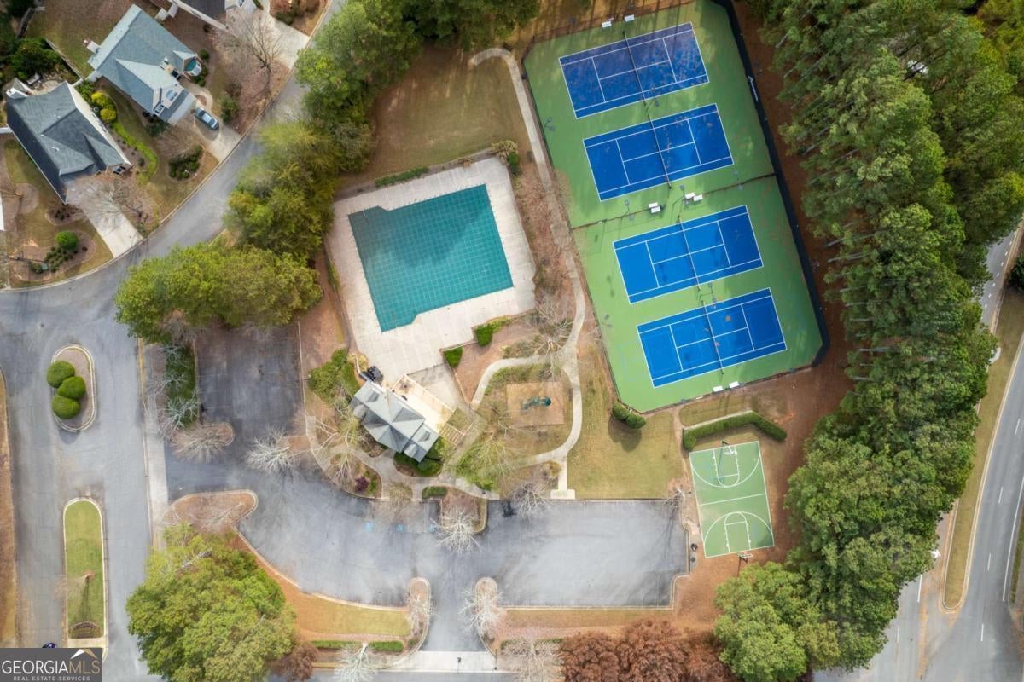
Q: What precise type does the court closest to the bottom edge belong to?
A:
basketball court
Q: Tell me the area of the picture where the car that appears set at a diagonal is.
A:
top left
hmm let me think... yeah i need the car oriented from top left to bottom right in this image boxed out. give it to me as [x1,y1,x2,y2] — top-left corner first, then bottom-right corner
[192,106,219,130]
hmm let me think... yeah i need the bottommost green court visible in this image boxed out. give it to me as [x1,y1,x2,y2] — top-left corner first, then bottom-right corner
[689,440,774,559]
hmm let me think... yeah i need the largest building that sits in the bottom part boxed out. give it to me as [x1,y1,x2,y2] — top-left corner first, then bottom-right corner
[346,380,440,463]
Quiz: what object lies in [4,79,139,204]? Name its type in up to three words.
house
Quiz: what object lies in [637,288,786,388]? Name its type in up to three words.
tennis court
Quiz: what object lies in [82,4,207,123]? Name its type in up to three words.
house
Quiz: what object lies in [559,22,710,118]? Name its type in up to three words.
tennis court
